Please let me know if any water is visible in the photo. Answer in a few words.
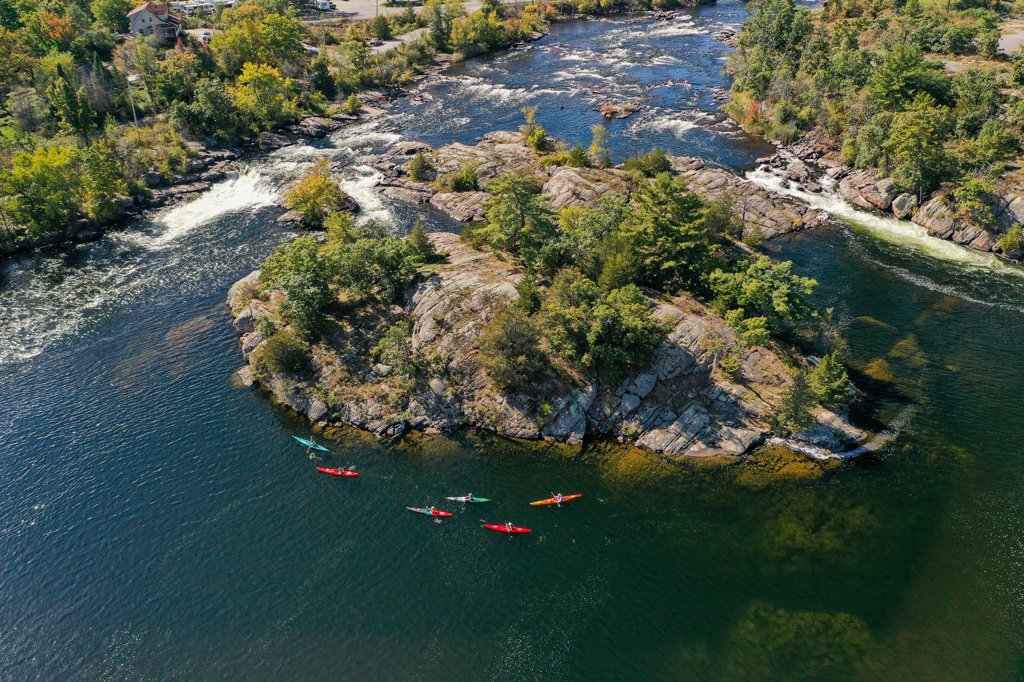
Yes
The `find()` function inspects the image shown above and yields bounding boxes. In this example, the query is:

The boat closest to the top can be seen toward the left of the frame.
[292,435,329,451]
